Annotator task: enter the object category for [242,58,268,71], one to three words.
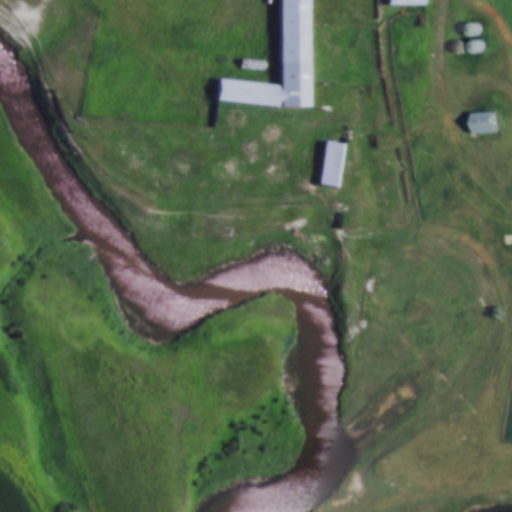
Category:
shed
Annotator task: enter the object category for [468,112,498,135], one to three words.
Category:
house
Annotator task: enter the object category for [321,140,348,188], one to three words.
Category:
shed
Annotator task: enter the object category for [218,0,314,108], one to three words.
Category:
barn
